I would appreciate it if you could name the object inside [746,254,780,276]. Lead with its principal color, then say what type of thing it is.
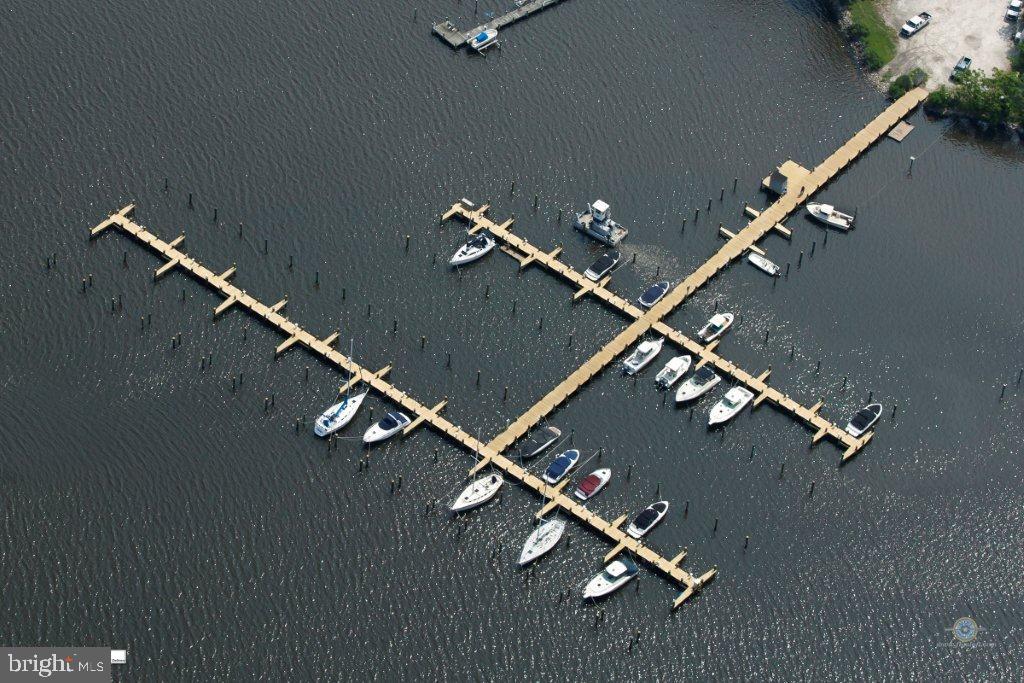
white boat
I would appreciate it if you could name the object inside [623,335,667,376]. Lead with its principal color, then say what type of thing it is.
white boat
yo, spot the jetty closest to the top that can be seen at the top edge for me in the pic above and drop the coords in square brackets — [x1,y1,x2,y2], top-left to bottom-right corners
[429,0,562,56]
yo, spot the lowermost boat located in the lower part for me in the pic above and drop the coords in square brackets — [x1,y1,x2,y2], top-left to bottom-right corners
[579,555,641,601]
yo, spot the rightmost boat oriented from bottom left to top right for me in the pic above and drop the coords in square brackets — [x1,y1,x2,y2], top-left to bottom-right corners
[844,405,883,441]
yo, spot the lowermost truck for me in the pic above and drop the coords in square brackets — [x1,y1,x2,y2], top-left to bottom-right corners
[946,54,975,82]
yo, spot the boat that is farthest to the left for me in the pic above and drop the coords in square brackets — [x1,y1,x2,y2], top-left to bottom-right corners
[316,343,371,436]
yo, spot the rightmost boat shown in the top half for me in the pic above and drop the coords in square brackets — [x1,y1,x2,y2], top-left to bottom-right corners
[805,202,857,232]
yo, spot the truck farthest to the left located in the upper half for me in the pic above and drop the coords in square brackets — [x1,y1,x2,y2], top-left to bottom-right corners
[897,10,934,40]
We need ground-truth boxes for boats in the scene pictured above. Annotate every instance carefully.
[706,366,756,427]
[844,405,883,441]
[584,254,622,284]
[452,430,505,513]
[363,411,412,445]
[573,469,612,505]
[517,0,532,7]
[805,202,857,232]
[542,450,581,488]
[573,203,630,248]
[468,30,499,53]
[579,555,641,601]
[696,312,734,345]
[746,254,780,276]
[623,335,667,376]
[316,343,371,436]
[518,480,566,566]
[625,502,670,542]
[638,282,670,310]
[656,354,693,391]
[450,214,496,267]
[675,365,723,405]
[517,428,562,460]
